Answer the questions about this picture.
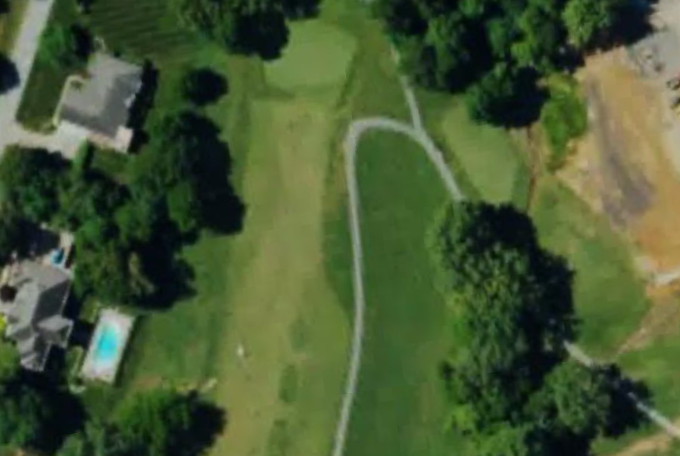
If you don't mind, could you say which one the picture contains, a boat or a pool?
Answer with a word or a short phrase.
pool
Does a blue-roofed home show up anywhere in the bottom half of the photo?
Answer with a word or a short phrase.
No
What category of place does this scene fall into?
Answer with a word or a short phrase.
golf course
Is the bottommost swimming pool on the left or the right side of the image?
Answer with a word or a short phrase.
left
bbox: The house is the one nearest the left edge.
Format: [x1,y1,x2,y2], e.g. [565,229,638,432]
[1,259,75,374]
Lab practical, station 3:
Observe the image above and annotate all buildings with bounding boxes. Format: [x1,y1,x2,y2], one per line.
[1,259,75,374]
[59,53,147,137]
